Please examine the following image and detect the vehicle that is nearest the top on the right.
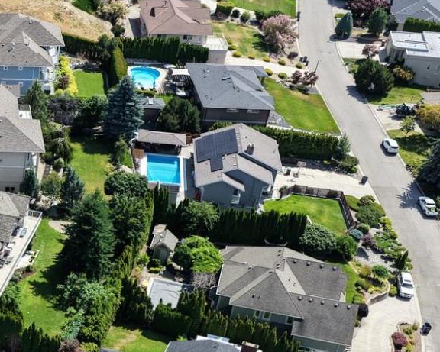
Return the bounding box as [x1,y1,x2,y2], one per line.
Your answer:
[379,137,402,156]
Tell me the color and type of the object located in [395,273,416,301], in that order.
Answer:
white car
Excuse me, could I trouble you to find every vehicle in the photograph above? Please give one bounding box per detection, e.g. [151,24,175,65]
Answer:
[379,137,402,156]
[395,273,416,301]
[411,193,440,221]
